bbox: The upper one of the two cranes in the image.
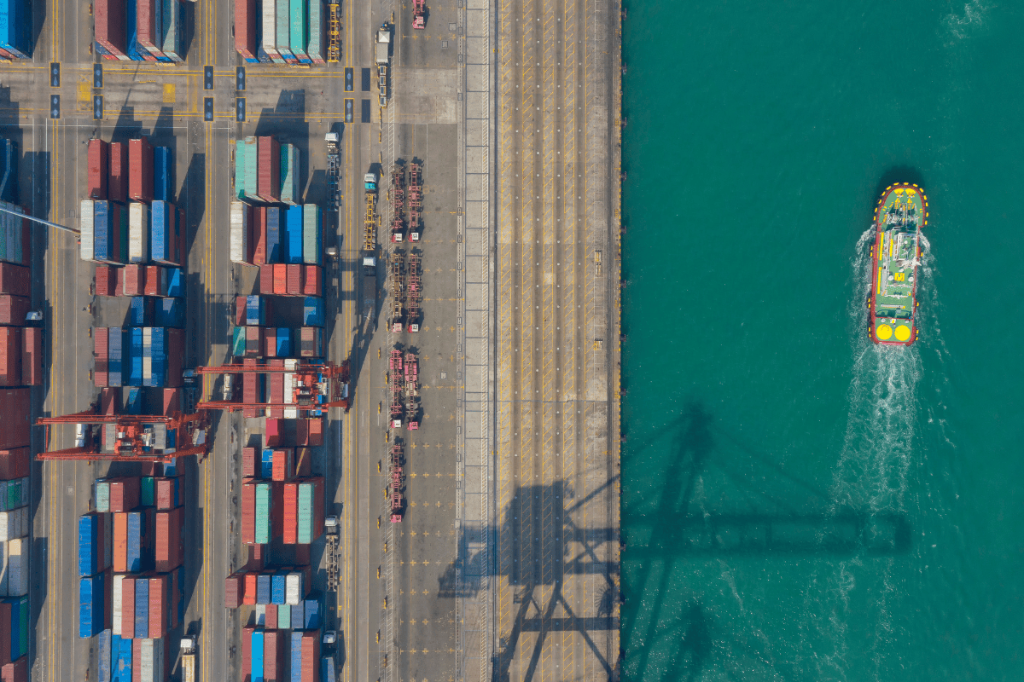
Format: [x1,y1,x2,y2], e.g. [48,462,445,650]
[195,357,352,420]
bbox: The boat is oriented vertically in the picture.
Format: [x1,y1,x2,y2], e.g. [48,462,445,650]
[865,182,929,345]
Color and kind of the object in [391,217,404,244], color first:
white vehicle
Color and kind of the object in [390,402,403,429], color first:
white vehicle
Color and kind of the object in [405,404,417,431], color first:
pink vehicle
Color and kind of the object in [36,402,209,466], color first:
red container crane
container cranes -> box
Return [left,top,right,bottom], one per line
[36,402,209,466]
[195,357,352,420]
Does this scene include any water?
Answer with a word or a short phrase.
Yes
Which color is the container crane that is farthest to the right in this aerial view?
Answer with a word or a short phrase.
red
